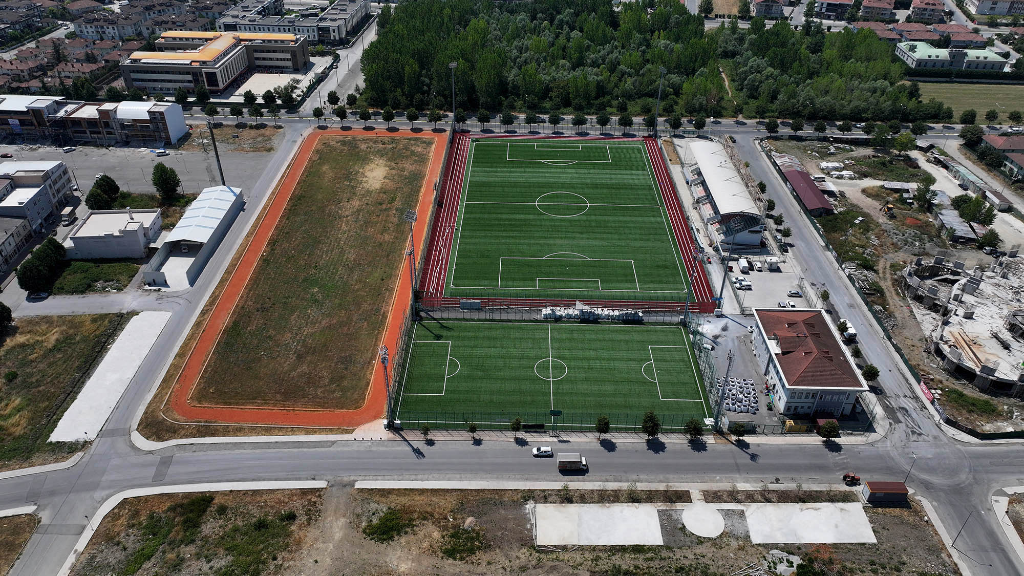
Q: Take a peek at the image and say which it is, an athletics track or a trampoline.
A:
athletics track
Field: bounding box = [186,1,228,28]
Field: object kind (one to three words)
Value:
building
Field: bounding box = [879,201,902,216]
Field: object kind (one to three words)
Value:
work vehicle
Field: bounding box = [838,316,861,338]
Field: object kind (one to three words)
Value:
truck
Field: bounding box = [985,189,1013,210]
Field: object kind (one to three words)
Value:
shed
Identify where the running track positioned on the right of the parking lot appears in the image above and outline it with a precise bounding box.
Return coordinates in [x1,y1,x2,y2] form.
[416,133,718,316]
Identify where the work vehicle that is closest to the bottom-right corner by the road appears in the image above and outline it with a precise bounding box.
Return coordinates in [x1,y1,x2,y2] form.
[843,472,862,485]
